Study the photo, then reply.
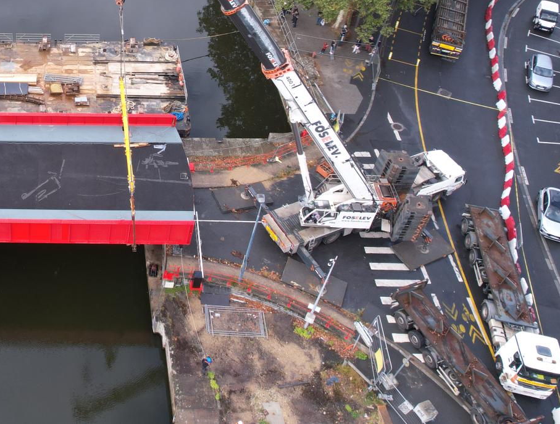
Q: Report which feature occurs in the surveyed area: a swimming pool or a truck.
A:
truck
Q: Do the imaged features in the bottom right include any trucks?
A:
Yes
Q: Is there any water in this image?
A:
Yes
